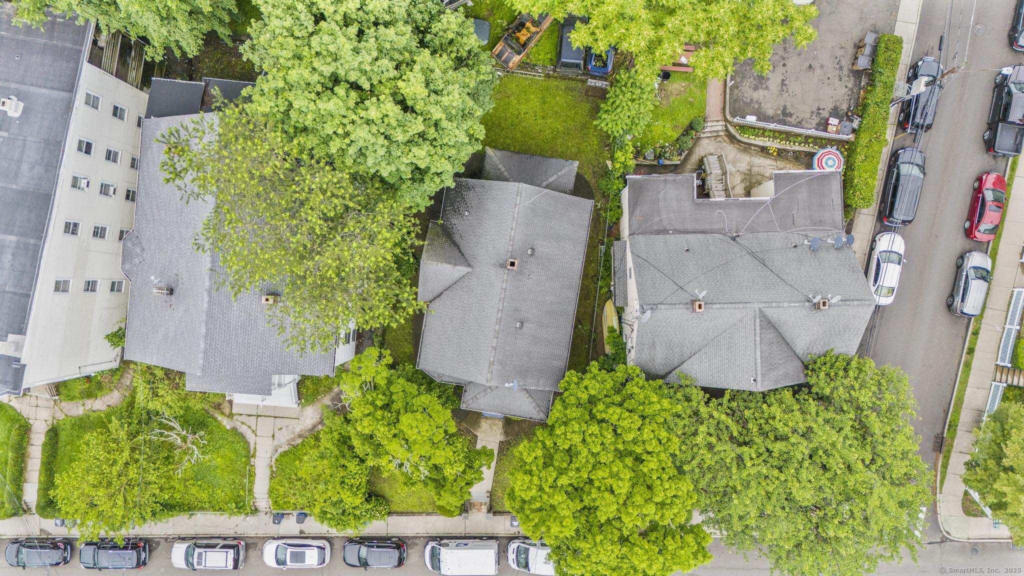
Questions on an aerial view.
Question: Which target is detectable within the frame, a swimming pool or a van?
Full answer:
Of the two, only a van appears.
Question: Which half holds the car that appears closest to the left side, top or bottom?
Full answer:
Seen from above, the car that appears closest to the left side lies in the bottom half of the view.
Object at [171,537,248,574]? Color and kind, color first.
white car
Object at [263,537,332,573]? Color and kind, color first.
white car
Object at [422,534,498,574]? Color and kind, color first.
white van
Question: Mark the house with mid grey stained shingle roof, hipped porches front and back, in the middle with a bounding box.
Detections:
[416,145,595,424]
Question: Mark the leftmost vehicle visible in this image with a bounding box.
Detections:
[7,537,75,571]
